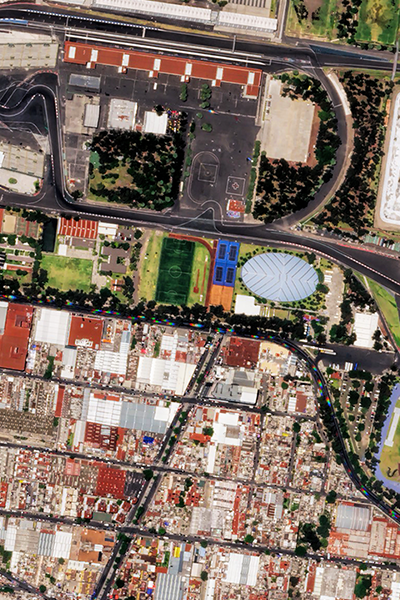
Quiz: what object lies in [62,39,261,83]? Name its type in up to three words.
building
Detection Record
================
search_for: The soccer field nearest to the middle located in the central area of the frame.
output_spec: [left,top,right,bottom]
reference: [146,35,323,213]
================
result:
[155,236,195,305]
